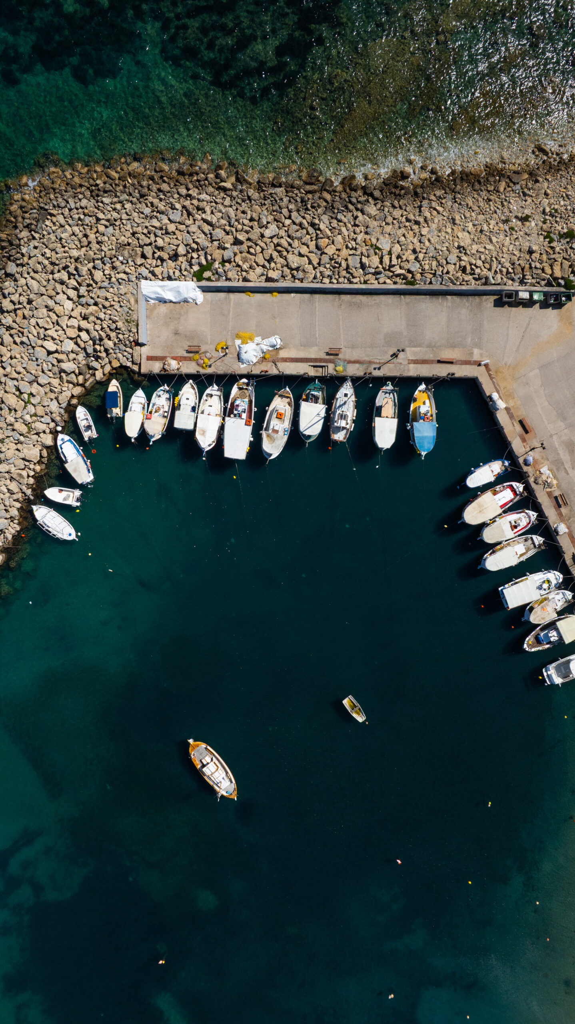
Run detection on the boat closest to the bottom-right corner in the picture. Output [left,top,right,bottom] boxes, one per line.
[540,652,575,687]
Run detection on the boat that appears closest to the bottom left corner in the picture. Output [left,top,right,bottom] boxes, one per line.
[187,738,238,802]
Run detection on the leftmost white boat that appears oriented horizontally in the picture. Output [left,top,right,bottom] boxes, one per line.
[44,487,88,507]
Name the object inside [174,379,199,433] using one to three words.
boat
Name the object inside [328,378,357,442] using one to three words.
boat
